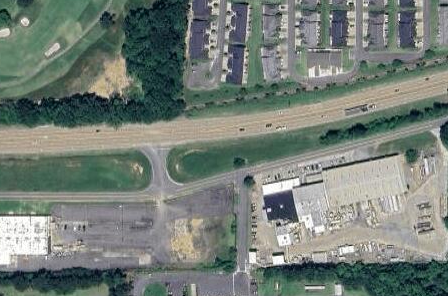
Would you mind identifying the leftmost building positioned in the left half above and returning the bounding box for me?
[0,215,50,264]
